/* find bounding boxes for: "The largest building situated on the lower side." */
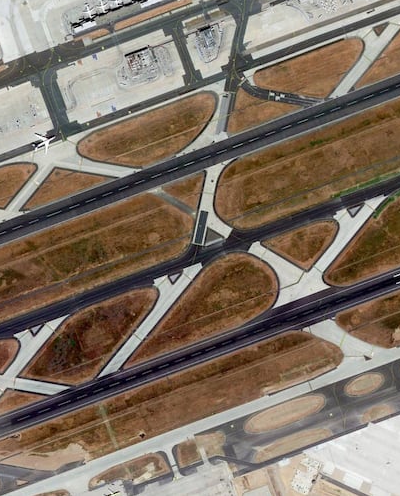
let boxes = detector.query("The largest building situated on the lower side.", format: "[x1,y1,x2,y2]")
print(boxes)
[293,458,322,492]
